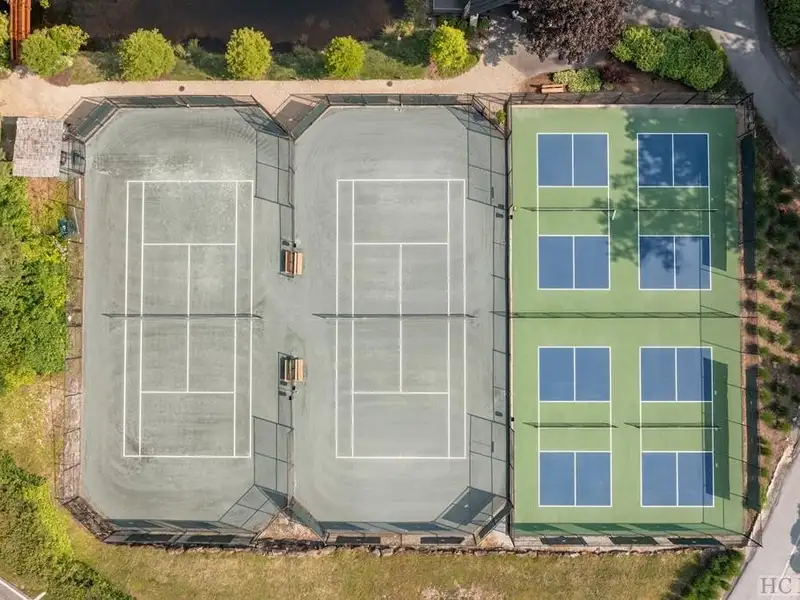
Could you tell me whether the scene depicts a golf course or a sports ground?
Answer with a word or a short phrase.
sports ground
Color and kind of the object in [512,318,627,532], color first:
green sports court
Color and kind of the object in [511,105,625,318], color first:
green sports court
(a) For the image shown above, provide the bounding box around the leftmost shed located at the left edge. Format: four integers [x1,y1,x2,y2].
[11,117,73,180]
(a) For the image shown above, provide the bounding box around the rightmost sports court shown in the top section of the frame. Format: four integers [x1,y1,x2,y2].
[623,105,741,318]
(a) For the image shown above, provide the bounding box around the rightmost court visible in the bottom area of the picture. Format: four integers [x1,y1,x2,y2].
[625,318,745,532]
